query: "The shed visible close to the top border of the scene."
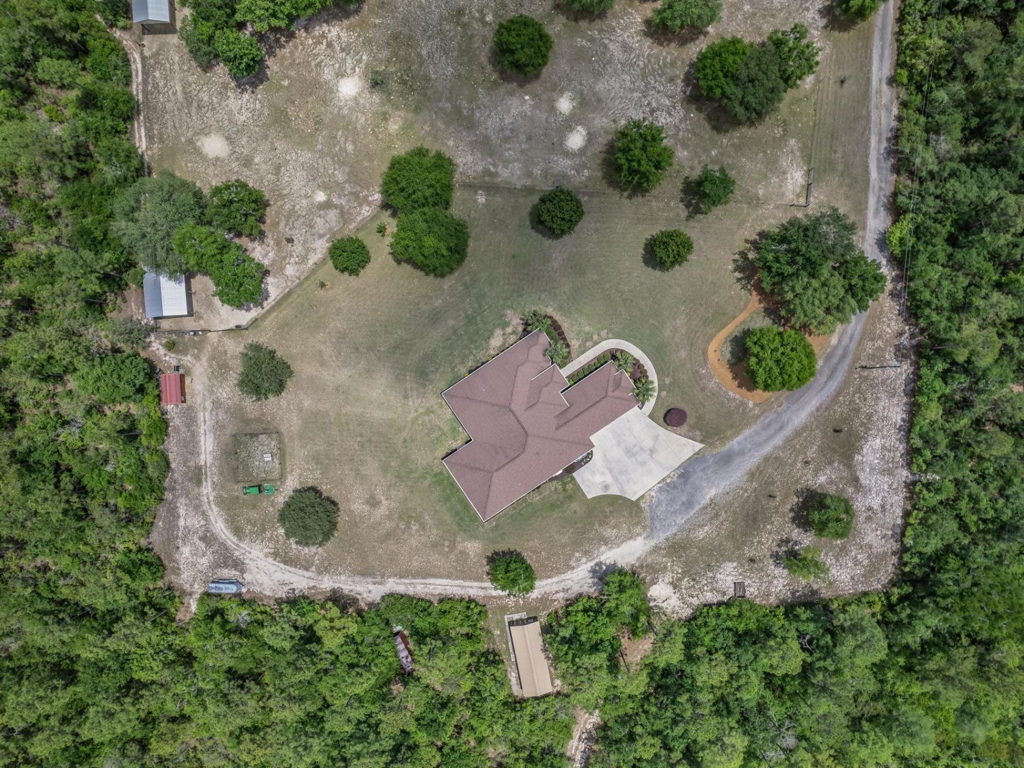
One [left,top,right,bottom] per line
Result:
[132,0,179,33]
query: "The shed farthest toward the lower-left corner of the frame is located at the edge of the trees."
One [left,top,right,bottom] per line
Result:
[163,374,189,404]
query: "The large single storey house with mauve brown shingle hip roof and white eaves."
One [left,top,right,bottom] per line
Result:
[440,327,642,523]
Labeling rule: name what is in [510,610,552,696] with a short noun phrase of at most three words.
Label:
shed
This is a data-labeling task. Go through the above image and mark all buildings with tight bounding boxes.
[132,0,179,33]
[440,327,642,523]
[142,263,194,318]
[163,374,189,404]
[510,610,552,696]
